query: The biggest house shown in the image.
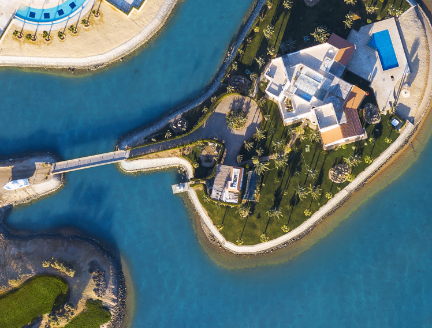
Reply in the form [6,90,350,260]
[263,34,367,149]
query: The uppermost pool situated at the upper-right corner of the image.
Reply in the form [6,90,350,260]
[364,27,400,72]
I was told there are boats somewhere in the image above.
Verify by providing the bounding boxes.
[3,178,32,190]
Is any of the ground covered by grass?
Yes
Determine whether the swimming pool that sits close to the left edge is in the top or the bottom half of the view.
top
